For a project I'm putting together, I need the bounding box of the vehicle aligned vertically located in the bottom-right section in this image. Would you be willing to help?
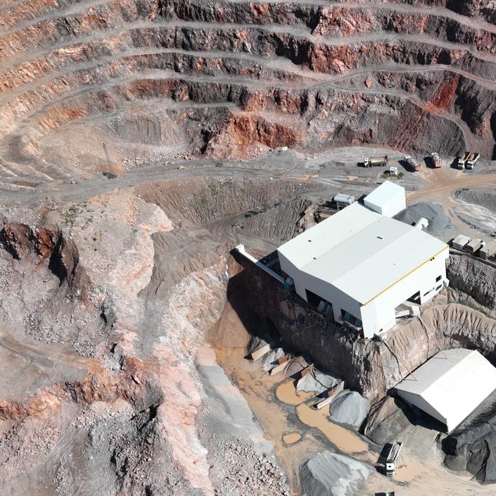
[386,442,403,478]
